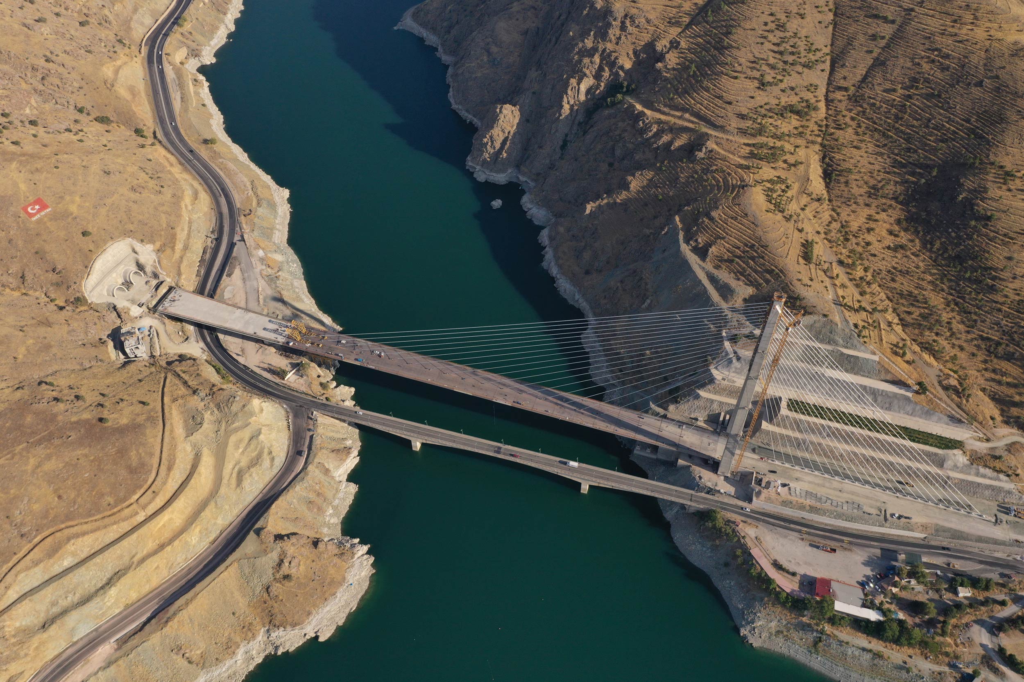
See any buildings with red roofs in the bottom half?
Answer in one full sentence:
Yes, a building with a red roof is visible in the bottom half.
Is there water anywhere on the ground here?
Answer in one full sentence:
Yes, there is water in the image.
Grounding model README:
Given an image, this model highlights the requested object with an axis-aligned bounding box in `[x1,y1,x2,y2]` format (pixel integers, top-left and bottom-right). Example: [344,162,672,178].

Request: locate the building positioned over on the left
[121,328,149,356]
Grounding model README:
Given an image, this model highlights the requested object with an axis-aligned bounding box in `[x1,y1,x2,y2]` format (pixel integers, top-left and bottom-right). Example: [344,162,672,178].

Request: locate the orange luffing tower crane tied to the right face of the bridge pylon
[735,309,807,466]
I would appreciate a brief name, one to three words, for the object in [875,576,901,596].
house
